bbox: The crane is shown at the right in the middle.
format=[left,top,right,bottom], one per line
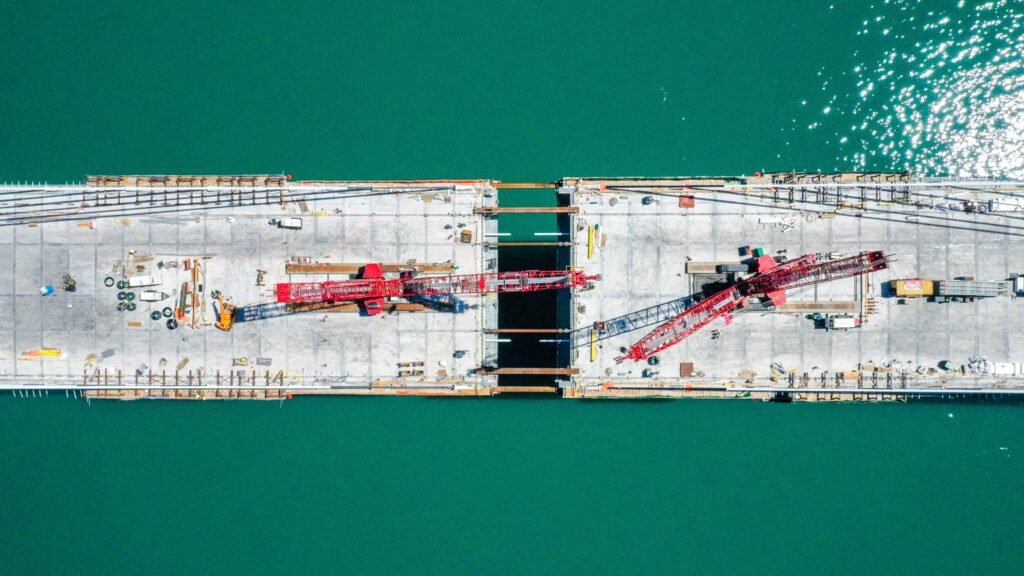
[617,252,896,361]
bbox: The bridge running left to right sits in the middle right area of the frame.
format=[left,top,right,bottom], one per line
[557,183,1024,393]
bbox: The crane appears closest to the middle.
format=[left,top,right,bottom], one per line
[269,262,603,313]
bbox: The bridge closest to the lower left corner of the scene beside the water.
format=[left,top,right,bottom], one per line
[0,185,497,391]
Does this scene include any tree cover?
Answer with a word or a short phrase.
No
